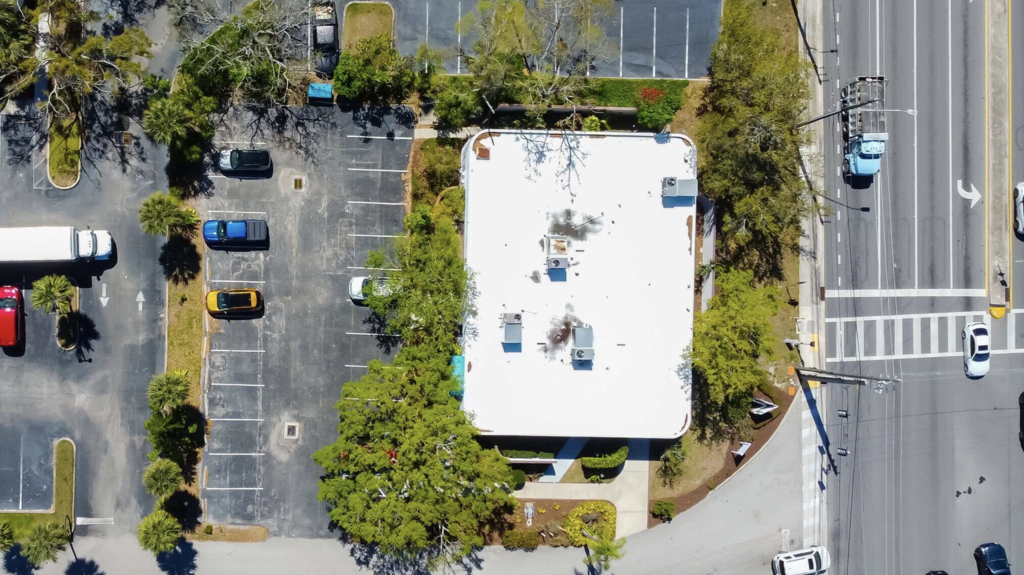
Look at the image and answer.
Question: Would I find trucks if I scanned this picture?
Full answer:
Yes, there's a truck down there.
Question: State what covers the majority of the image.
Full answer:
What you mostly see from above here is paved ground.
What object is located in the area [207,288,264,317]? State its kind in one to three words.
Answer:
car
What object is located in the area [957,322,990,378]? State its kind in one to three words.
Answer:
car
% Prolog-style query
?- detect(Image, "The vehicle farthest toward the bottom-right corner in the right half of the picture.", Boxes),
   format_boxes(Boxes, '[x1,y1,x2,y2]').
[977,541,1013,575]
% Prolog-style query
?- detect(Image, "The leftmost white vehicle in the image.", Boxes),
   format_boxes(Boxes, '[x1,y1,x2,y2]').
[0,224,117,263]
